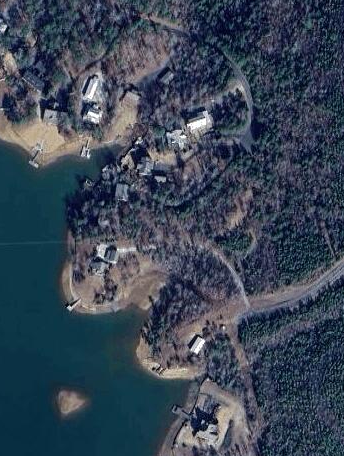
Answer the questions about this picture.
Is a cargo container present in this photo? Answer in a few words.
No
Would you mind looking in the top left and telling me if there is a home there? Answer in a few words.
Yes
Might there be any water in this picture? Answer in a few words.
Yes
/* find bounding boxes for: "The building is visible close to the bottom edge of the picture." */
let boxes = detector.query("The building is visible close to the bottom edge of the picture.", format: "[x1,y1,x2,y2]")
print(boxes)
[194,415,221,441]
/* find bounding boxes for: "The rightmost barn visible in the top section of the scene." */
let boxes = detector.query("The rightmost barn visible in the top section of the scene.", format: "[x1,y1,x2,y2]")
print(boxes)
[186,110,212,131]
